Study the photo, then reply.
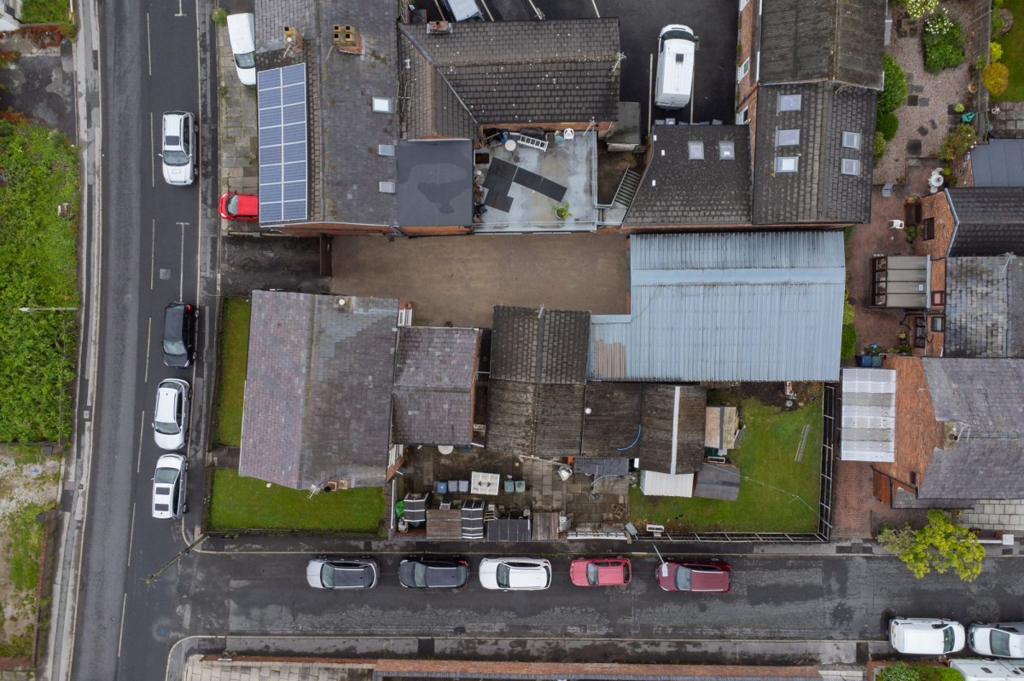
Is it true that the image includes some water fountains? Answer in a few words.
No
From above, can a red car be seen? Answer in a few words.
Yes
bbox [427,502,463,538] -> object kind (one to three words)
shed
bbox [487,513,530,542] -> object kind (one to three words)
shed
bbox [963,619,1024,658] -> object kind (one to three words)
van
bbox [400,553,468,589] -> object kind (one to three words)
car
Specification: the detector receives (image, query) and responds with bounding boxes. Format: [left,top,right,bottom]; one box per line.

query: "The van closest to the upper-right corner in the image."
[656,30,698,119]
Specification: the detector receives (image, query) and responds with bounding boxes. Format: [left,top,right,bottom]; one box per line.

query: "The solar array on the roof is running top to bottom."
[256,61,307,225]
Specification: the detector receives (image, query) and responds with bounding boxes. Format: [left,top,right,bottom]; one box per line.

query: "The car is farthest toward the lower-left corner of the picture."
[152,453,189,518]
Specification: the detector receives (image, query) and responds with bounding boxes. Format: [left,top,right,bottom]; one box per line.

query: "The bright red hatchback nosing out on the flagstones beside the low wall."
[219,190,257,221]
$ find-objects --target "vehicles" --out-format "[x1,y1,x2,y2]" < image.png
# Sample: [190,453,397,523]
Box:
[400,553,468,589]
[222,5,255,89]
[219,190,257,221]
[954,659,1024,681]
[152,453,189,518]
[656,556,730,593]
[656,30,698,119]
[446,0,485,21]
[162,302,199,367]
[481,555,551,590]
[161,111,201,186]
[571,555,631,587]
[963,619,1024,658]
[153,379,191,449]
[308,554,379,591]
[886,616,960,653]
